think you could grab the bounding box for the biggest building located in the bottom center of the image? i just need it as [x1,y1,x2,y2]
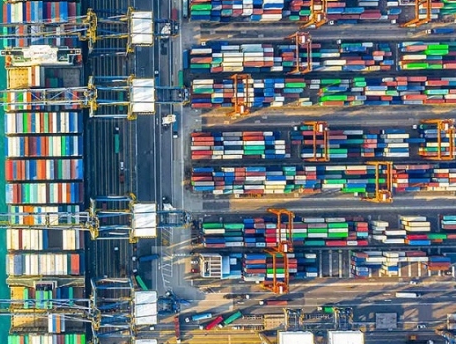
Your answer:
[202,254,222,278]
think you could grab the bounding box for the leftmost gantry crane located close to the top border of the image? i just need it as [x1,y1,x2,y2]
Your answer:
[0,6,183,68]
